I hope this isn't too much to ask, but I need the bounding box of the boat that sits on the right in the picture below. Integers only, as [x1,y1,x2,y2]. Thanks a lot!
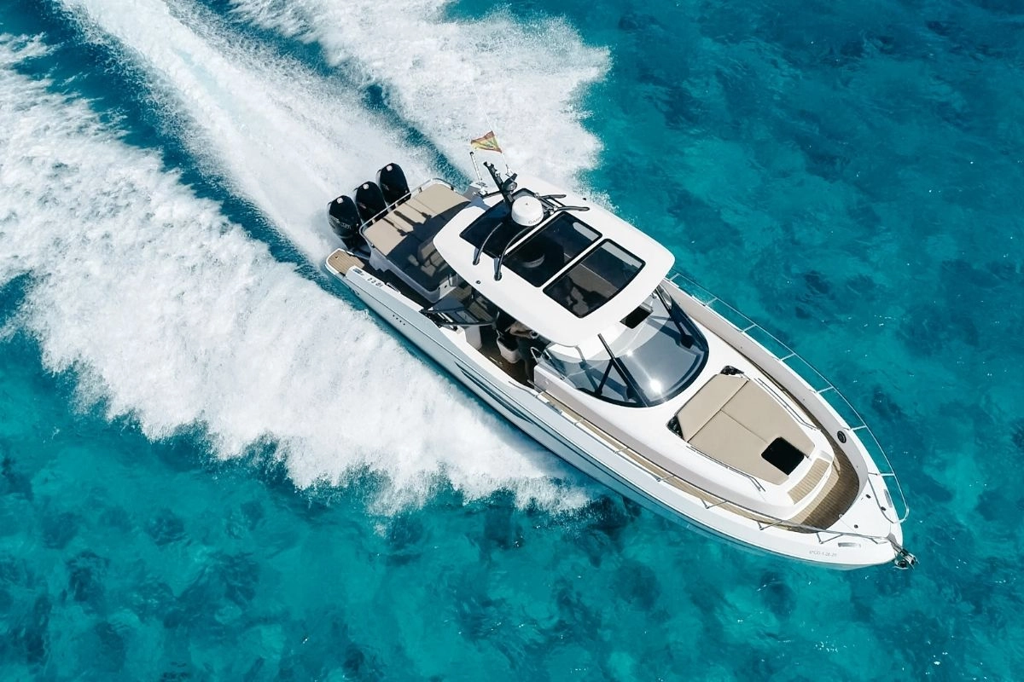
[325,90,926,566]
